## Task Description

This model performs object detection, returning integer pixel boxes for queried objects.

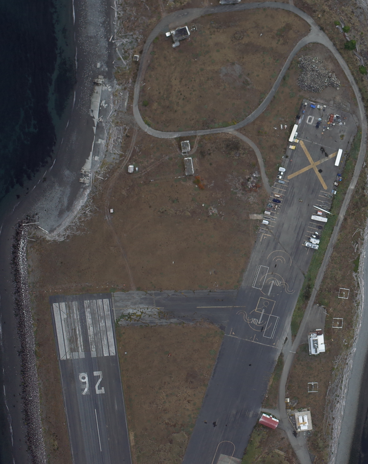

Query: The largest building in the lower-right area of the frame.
[308,329,326,354]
